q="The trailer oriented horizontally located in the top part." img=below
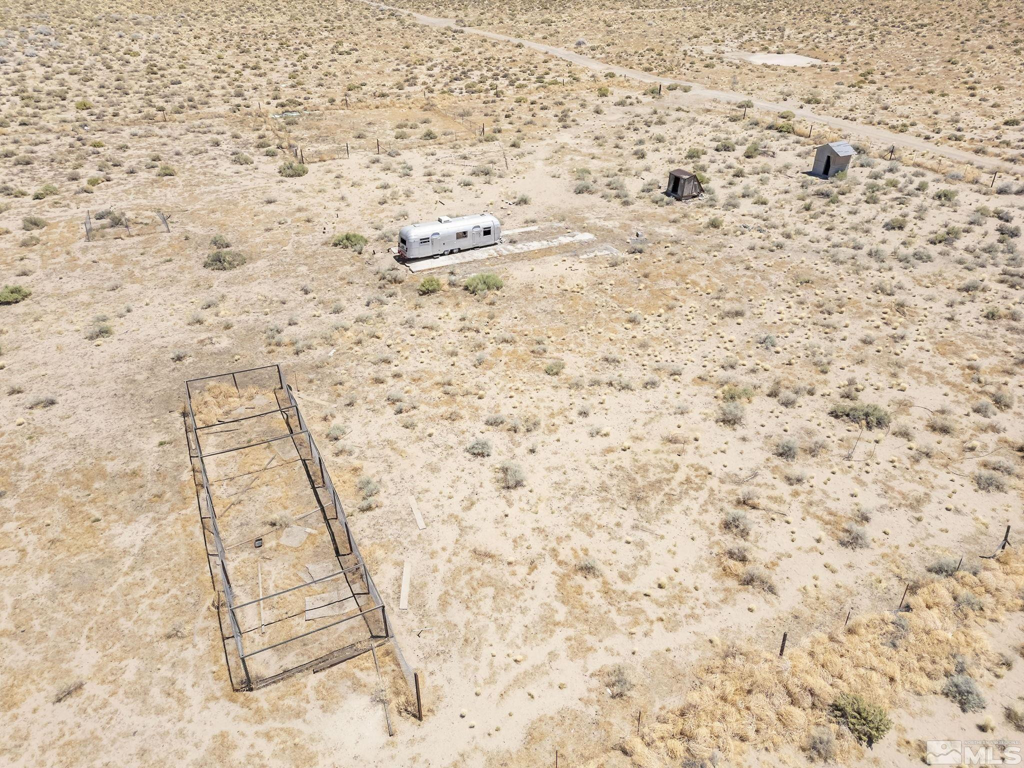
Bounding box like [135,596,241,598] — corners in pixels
[395,212,508,259]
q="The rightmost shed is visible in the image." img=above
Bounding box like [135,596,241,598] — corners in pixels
[812,144,856,178]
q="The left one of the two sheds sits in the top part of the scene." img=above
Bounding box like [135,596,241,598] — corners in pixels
[667,170,703,198]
